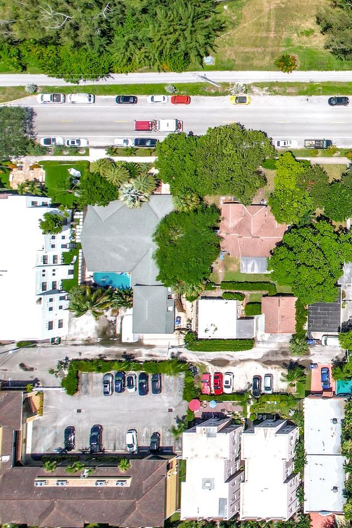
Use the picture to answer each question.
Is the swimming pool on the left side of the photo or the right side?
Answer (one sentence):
You can find the swimming pool on the left side of the picture.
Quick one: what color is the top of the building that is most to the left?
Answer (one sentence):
The roof over the building that is most to the left appears white.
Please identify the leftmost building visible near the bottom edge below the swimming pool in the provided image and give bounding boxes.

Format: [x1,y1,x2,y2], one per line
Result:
[0,387,181,528]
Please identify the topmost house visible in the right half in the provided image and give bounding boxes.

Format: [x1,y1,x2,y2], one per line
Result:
[218,203,288,273]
